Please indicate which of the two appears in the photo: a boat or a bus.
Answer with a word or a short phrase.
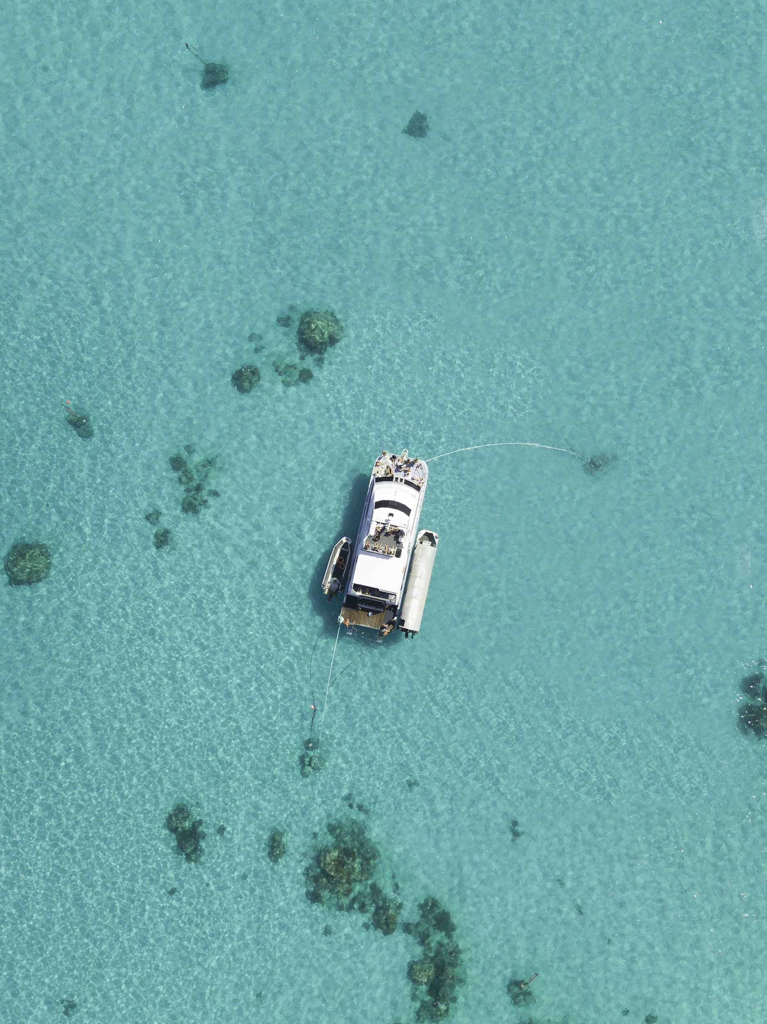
boat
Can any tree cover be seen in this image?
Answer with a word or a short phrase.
No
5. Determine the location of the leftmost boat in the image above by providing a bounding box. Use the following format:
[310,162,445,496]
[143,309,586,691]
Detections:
[322,537,354,601]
